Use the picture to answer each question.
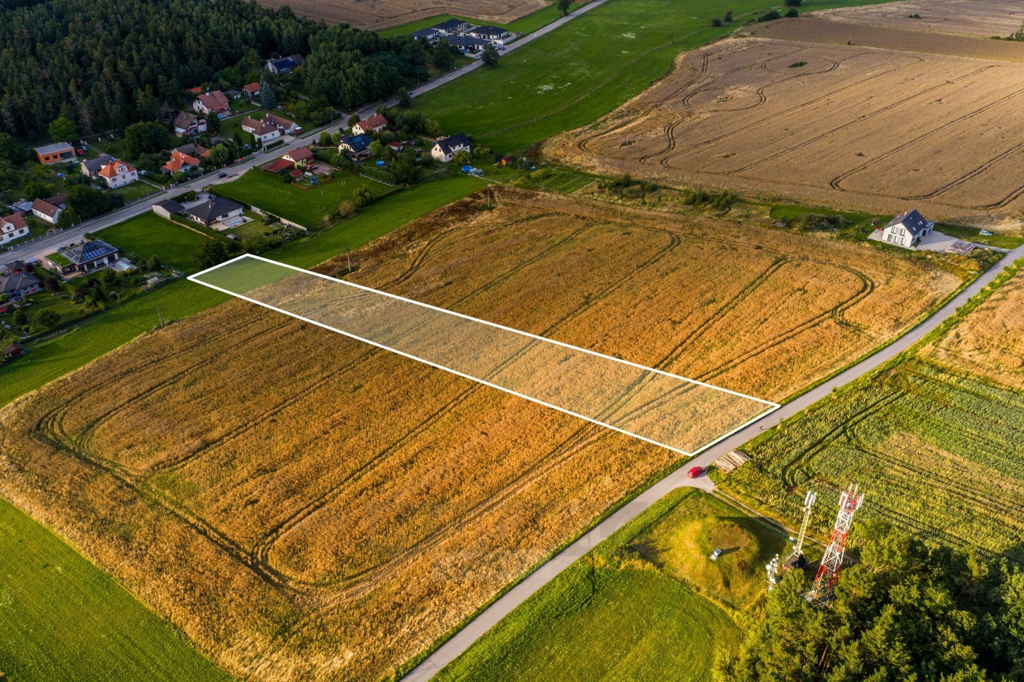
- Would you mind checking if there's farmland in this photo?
Yes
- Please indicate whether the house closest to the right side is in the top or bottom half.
top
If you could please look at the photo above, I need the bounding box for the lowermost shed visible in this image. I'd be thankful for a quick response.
[779,548,815,581]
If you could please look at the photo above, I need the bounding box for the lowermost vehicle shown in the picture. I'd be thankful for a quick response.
[687,464,707,479]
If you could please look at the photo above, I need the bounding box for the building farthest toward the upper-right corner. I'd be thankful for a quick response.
[883,205,954,248]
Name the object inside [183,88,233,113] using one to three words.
house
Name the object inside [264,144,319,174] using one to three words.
house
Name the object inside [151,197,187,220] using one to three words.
building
